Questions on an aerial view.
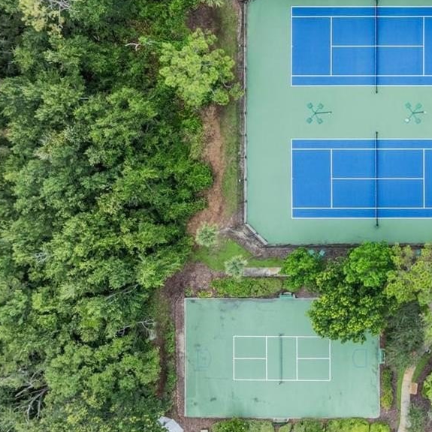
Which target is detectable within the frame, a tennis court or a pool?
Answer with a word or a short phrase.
tennis court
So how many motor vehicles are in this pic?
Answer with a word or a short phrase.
0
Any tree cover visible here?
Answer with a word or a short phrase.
Yes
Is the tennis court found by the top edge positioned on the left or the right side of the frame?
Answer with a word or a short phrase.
right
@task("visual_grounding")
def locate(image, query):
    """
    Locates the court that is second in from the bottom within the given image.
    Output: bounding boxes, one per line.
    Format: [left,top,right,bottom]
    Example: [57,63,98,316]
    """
[291,131,432,228]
